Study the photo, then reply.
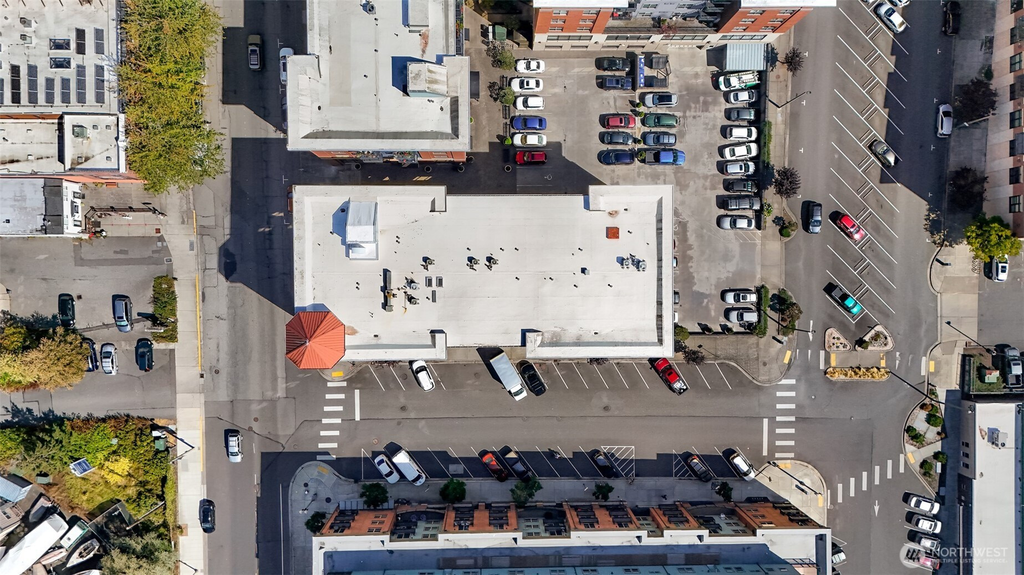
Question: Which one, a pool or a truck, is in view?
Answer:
truck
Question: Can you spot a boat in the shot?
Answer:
Yes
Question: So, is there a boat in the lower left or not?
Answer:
Yes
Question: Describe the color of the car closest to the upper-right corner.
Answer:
black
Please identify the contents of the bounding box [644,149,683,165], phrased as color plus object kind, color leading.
blue vehicle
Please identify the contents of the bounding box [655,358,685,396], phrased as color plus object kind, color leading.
red truck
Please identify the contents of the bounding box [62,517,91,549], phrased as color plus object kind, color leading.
white boat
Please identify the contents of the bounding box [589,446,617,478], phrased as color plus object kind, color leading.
black car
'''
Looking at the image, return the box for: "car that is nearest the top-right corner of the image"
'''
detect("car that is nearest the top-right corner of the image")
[940,0,961,37]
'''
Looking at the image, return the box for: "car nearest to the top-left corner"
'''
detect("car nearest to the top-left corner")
[246,34,263,71]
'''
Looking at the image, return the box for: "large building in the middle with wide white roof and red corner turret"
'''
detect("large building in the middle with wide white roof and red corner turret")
[285,185,674,370]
